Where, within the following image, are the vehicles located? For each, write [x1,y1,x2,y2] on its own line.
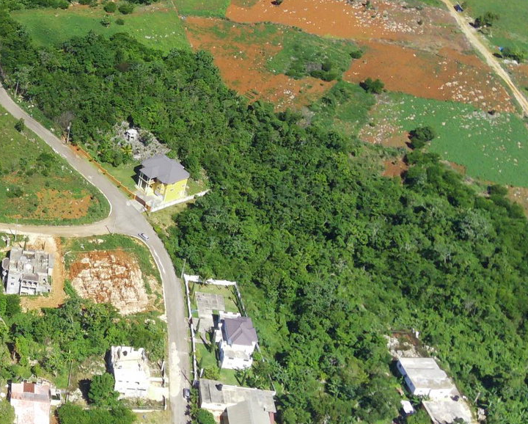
[455,6,464,11]
[139,231,152,241]
[183,384,191,400]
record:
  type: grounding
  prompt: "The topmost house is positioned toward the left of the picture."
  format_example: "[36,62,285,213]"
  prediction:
[137,156,190,196]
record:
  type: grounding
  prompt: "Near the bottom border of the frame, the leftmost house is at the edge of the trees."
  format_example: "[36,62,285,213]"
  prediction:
[10,382,50,424]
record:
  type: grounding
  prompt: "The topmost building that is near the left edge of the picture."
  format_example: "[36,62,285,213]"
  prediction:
[2,249,54,298]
